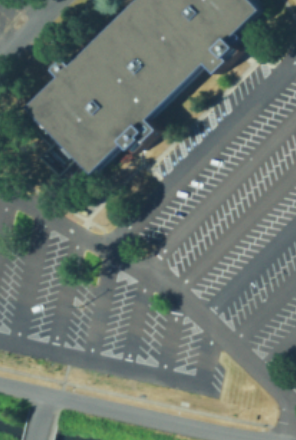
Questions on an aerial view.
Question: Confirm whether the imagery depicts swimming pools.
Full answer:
No, there's no swimming pool here.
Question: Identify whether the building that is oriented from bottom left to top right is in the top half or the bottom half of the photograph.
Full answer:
Seen from above, the building that is oriented from bottom left to top right lies in the top half of the view.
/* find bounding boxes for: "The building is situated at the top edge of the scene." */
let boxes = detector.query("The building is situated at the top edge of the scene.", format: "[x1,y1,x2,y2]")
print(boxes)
[28,0,263,174]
